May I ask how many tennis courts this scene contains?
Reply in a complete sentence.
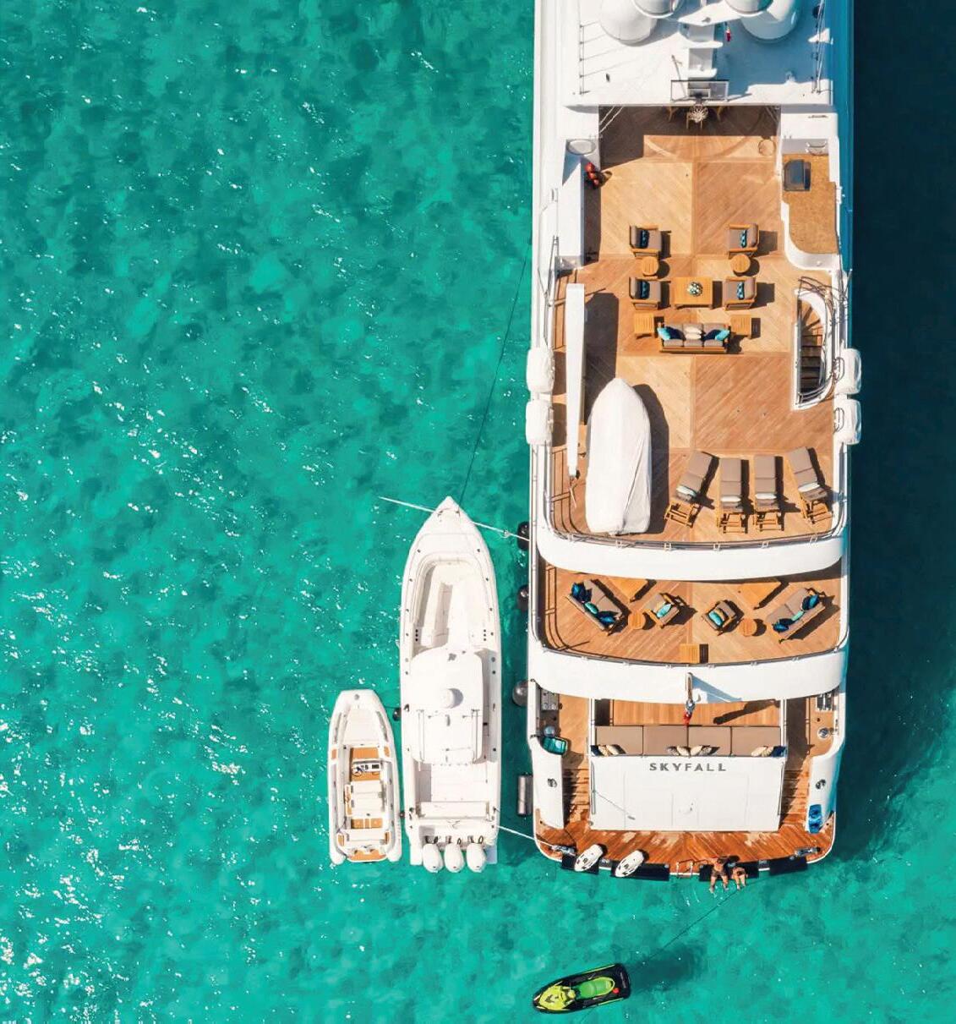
The photo contains no tennis courts.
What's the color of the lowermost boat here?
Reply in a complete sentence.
The color of the lowermost boat is green.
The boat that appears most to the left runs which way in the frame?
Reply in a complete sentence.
In this picture, the boat that appears most to the left is oriented up and down.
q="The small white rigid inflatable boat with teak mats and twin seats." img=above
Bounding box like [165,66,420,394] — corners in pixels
[329,690,401,863]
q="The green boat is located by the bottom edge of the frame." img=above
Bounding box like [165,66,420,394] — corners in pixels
[535,960,632,1010]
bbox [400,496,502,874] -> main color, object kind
white boat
